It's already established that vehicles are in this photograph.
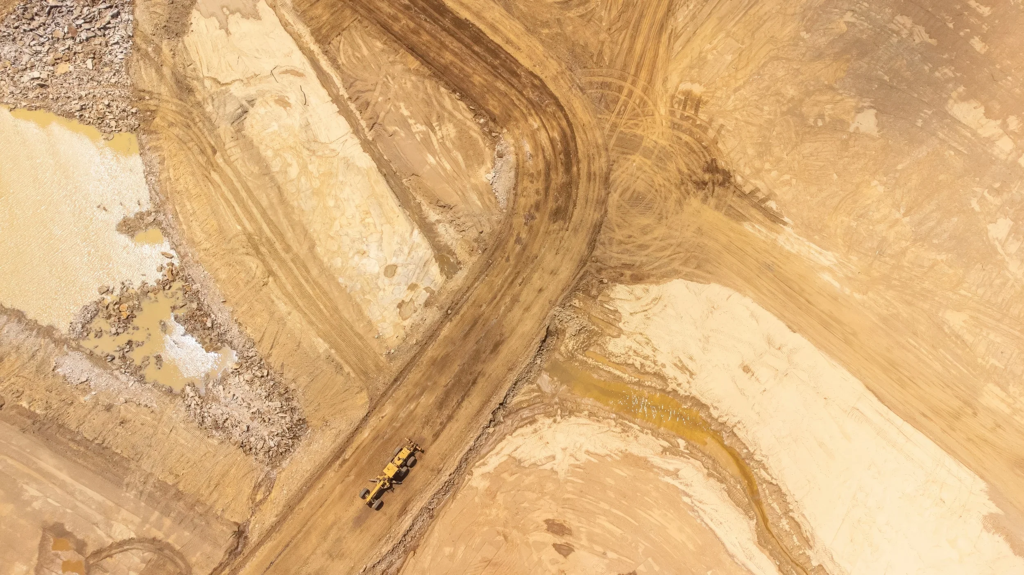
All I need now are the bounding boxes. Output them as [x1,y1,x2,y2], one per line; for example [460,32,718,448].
[358,435,423,509]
